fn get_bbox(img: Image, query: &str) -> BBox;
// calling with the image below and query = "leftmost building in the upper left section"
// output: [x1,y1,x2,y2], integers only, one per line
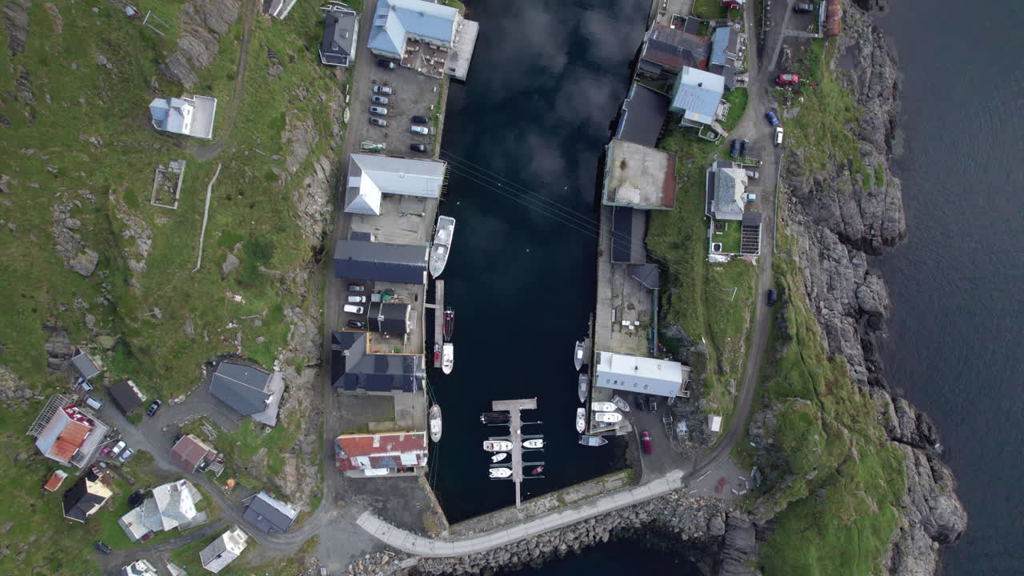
[150,98,193,135]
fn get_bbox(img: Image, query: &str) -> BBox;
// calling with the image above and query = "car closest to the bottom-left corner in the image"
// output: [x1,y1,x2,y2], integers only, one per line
[90,541,111,557]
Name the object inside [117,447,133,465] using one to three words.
car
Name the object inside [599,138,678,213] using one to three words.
building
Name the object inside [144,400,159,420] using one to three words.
car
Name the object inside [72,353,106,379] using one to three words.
shed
